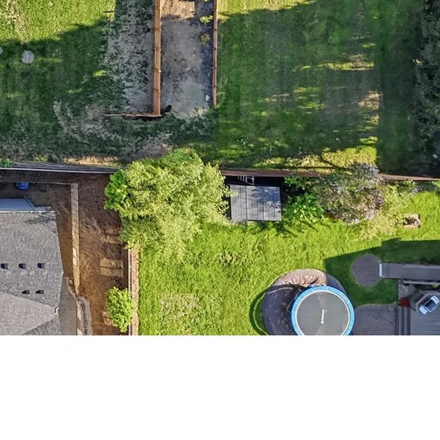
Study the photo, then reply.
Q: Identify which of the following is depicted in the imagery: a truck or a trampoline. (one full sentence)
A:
It is a trampoline that can be seen here.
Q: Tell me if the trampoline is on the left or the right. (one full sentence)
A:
The trampoline is on the right side of the image.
